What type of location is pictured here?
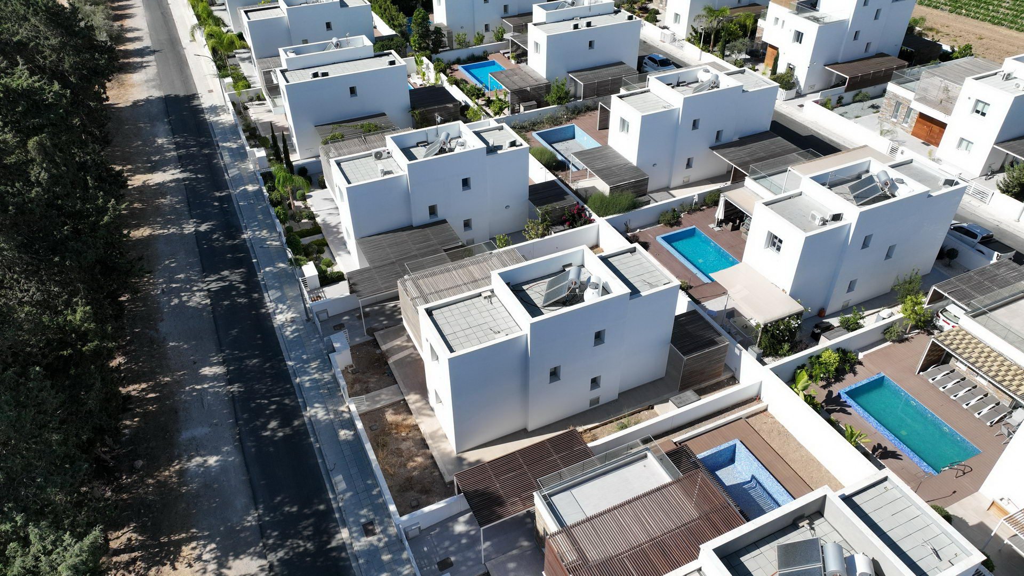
residential area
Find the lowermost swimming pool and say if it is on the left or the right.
right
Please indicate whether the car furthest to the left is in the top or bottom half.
top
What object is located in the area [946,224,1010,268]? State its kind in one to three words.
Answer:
truck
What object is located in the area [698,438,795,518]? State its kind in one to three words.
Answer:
swimming pool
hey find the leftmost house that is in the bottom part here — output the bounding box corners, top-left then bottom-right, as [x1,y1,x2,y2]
[397,240,682,452]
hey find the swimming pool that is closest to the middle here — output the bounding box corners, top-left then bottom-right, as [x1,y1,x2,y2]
[534,123,599,169]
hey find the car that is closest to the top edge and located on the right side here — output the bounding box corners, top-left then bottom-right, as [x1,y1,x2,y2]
[637,50,668,72]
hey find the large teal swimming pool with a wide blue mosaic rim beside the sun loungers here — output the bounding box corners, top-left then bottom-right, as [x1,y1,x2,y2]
[840,371,985,474]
